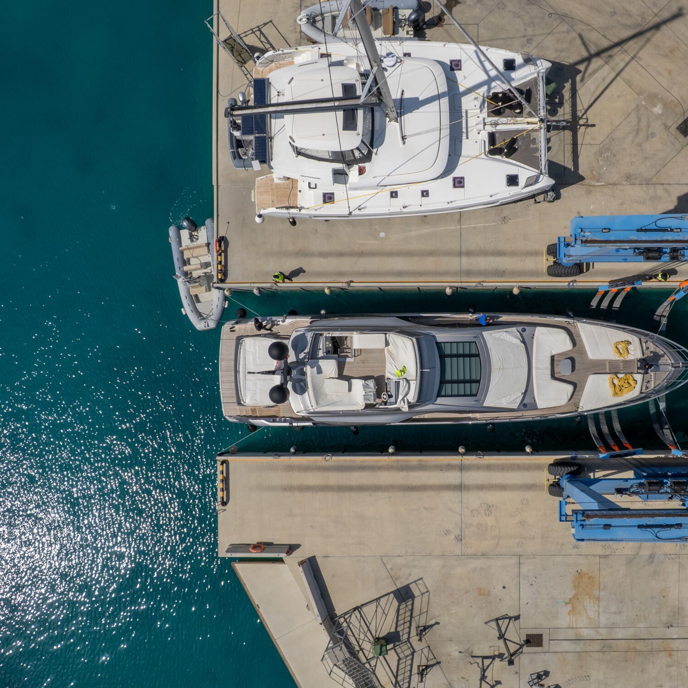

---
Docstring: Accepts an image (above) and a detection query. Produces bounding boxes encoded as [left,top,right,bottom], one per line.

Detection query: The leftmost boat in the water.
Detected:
[169,212,220,330]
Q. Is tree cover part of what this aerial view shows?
No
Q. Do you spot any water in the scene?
Yes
